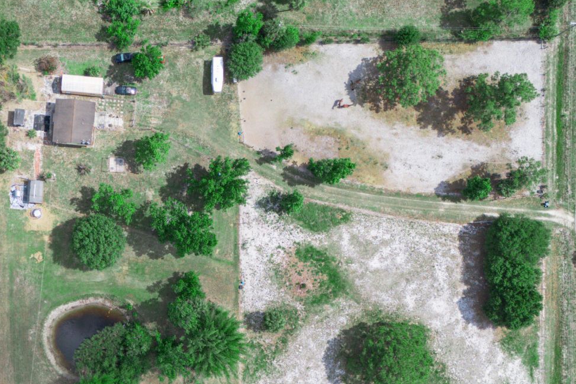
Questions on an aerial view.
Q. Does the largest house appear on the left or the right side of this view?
left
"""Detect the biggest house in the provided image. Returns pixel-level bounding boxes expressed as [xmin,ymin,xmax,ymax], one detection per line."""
[52,99,95,146]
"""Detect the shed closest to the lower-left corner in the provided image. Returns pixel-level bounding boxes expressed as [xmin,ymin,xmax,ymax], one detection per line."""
[29,180,44,204]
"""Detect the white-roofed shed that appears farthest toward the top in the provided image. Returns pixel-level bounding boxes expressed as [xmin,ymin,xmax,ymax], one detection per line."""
[61,75,103,98]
